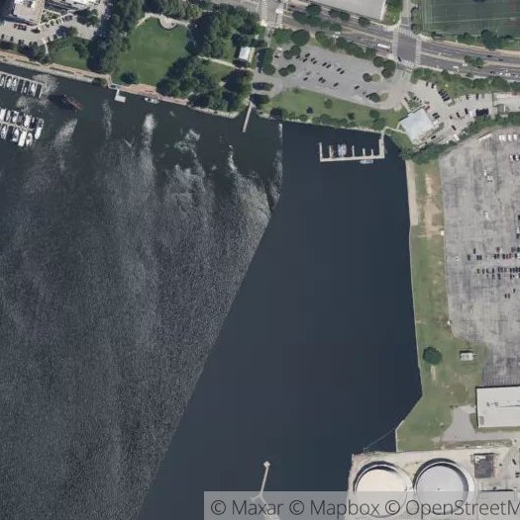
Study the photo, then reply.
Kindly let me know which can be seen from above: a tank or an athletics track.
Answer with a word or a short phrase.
tank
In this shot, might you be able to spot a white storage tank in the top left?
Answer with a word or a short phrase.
No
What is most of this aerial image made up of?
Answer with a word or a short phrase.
water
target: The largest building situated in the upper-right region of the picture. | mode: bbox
[399,109,435,144]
